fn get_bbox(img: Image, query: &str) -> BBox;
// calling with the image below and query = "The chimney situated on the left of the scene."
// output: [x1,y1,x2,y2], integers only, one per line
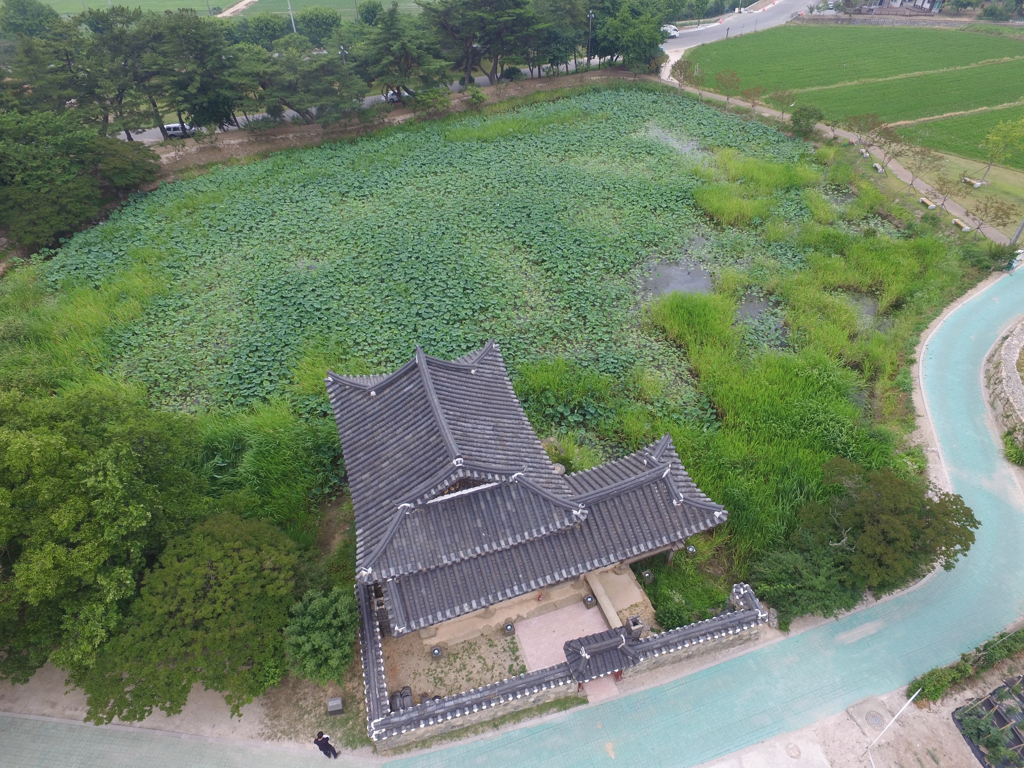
[372,595,397,643]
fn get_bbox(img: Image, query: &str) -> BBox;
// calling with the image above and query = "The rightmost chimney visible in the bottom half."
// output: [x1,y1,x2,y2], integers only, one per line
[626,619,644,640]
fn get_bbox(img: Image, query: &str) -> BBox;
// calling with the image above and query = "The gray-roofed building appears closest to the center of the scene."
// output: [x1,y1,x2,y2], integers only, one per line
[324,336,729,645]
